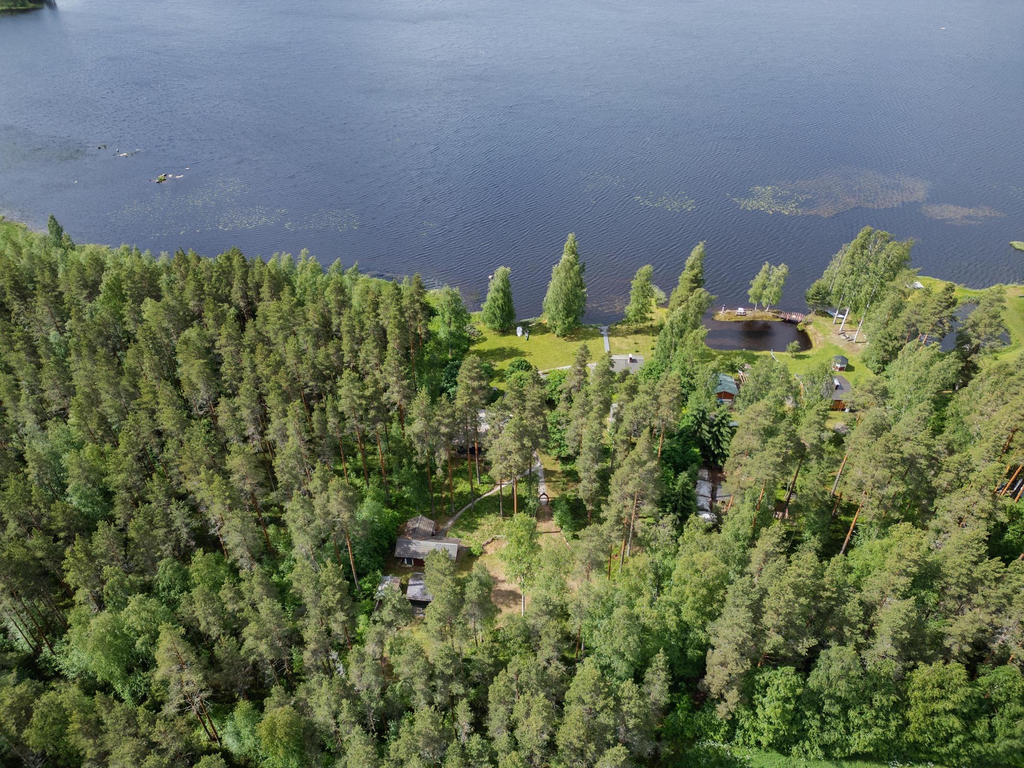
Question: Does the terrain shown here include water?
Yes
